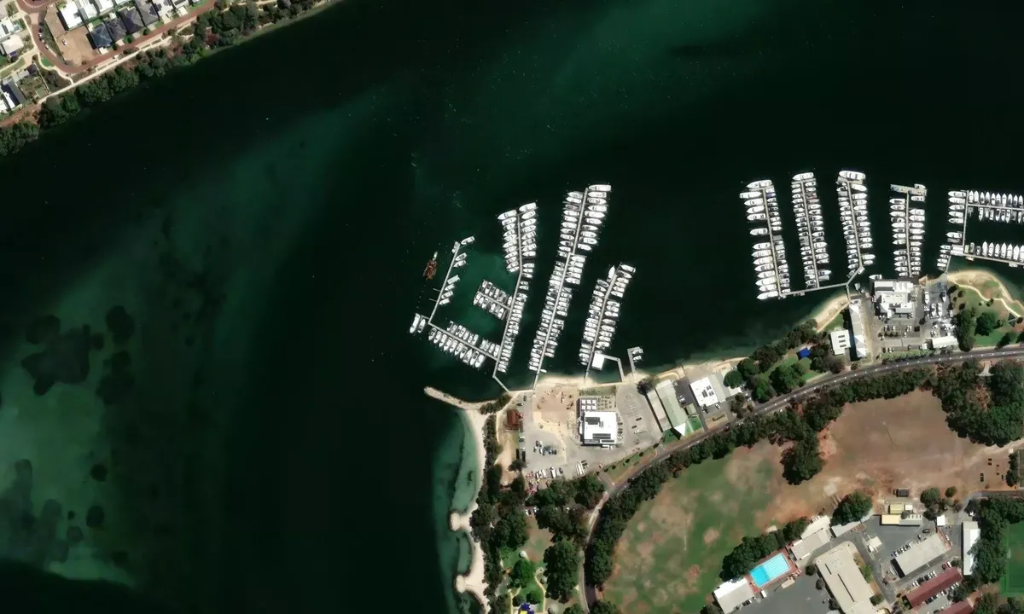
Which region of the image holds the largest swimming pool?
bottom right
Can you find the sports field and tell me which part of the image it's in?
bottom right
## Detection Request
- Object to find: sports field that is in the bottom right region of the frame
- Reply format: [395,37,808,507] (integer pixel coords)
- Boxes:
[599,383,1024,614]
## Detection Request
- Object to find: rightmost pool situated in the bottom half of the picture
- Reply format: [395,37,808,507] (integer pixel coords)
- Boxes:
[746,546,801,595]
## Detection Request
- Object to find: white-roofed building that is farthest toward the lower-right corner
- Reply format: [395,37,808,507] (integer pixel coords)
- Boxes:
[963,522,980,575]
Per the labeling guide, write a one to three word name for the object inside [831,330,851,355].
building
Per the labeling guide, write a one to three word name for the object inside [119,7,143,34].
house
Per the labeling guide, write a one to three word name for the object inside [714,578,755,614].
building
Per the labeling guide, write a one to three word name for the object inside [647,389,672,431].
shed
